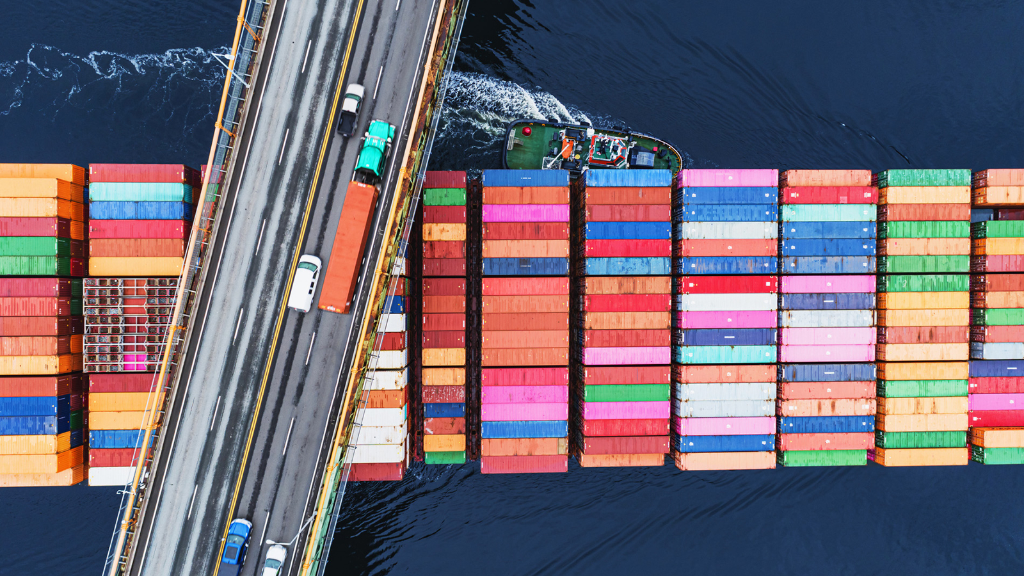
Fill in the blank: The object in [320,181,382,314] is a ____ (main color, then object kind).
red shipping container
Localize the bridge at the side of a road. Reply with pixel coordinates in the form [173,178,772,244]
[100,0,473,576]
